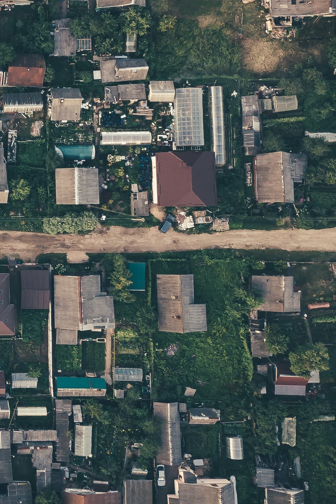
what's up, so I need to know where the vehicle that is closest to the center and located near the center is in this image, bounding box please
[158,214,174,234]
